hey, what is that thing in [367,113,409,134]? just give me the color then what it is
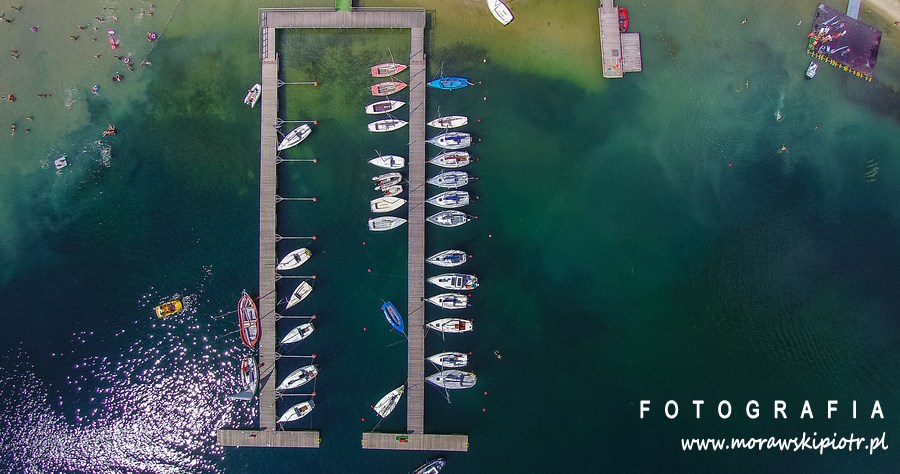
white boat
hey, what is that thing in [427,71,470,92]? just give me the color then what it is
blue boat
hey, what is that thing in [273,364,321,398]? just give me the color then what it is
white boat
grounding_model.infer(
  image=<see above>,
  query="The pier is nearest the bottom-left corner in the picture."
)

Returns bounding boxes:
[217,429,321,448]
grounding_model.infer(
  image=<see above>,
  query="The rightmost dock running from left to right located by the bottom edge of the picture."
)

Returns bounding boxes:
[360,432,469,452]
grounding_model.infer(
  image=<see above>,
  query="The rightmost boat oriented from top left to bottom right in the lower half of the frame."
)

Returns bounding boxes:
[382,301,408,339]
